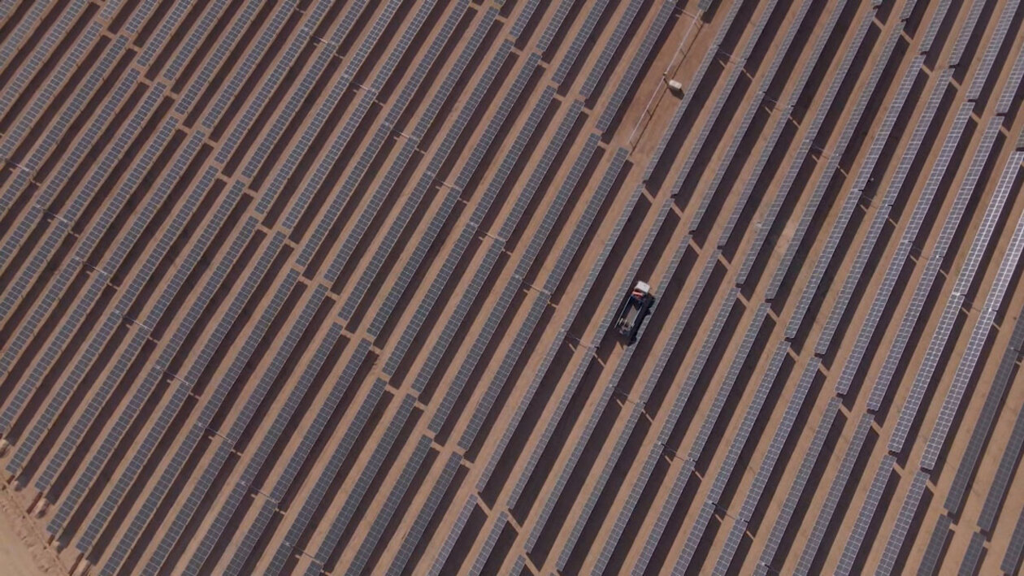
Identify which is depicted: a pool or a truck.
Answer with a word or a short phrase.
truck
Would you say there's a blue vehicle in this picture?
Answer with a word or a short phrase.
No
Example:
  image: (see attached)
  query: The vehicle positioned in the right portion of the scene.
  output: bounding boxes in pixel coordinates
[611,282,653,342]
